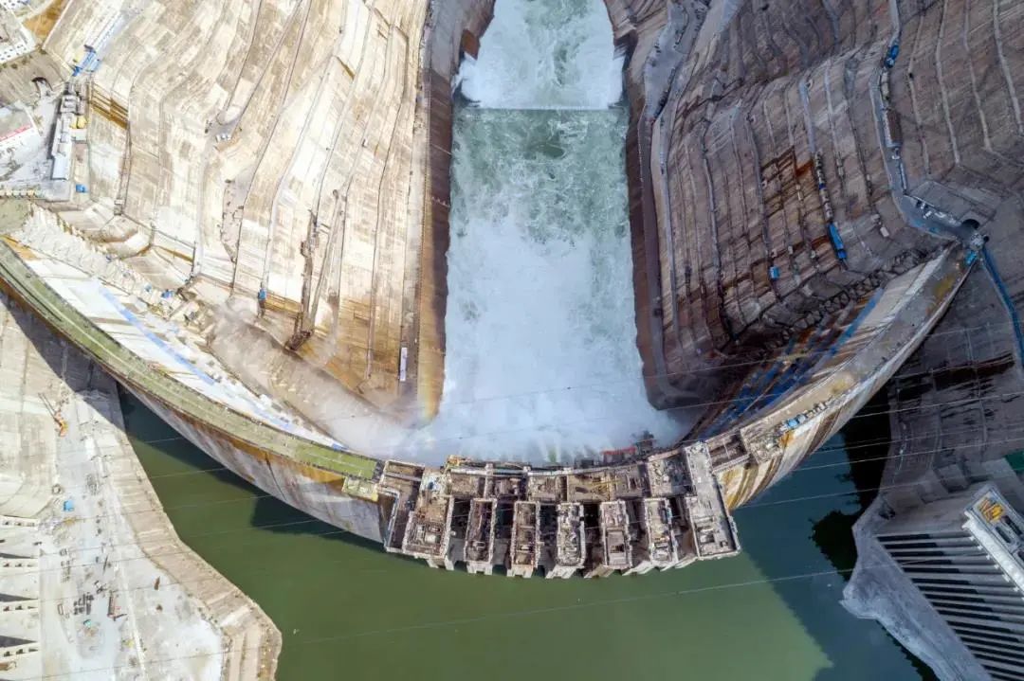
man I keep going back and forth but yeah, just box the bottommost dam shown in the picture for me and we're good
[0,233,975,579]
